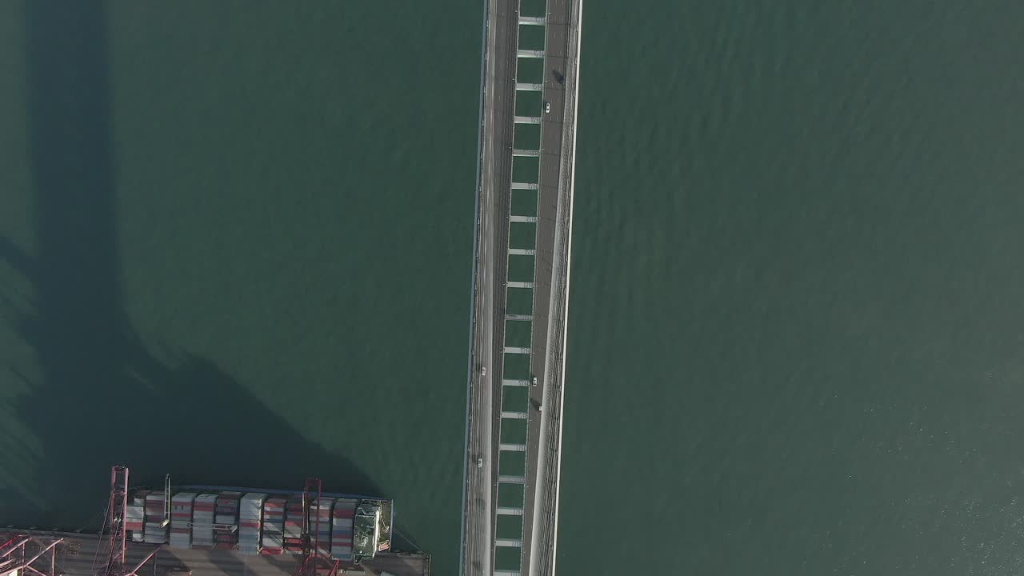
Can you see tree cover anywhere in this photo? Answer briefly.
No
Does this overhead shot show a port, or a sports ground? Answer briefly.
port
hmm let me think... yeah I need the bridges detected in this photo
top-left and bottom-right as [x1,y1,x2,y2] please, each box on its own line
[460,0,582,576]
